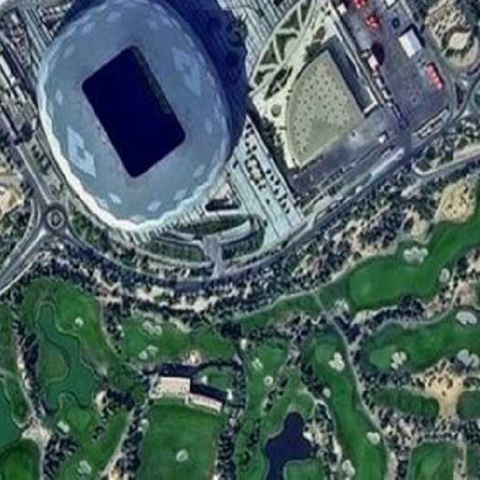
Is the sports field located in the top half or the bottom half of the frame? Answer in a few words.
top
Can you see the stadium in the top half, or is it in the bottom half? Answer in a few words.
top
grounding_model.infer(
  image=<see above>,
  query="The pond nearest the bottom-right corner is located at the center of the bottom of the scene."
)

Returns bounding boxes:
[266,412,315,480]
